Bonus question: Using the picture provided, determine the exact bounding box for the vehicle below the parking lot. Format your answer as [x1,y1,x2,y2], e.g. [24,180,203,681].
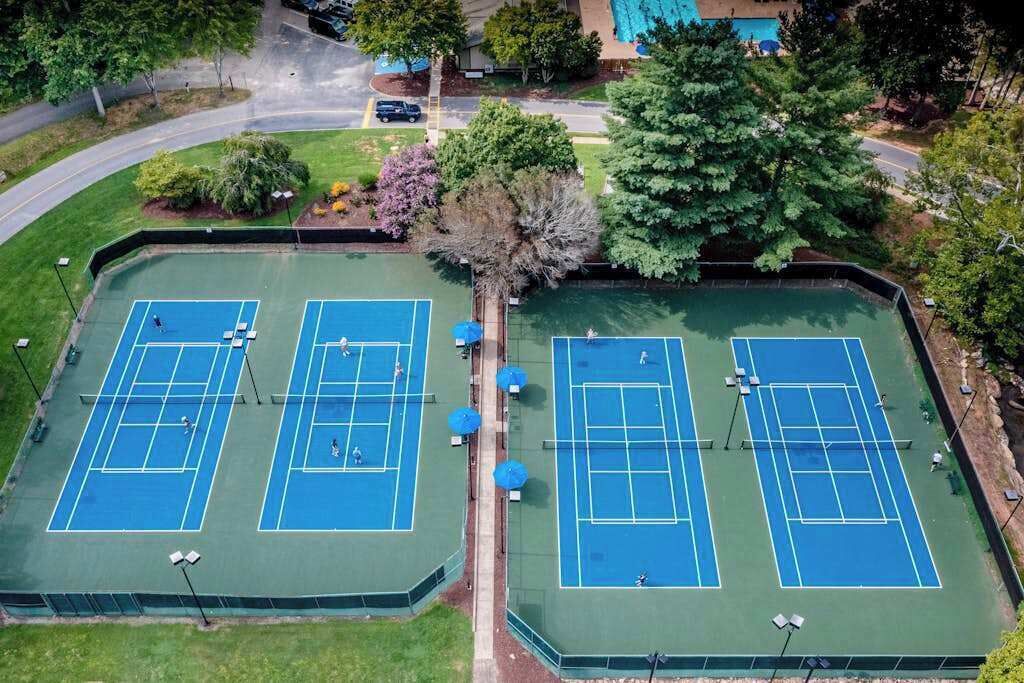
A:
[375,99,420,123]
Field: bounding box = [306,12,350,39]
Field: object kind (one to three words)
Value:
vehicle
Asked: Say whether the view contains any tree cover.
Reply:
Yes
